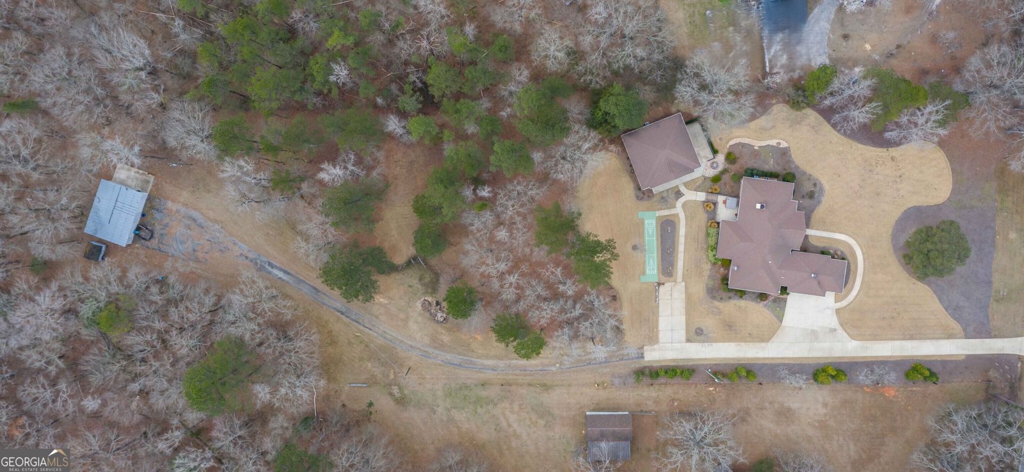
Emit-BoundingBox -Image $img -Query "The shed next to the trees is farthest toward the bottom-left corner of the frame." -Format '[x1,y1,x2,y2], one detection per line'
[84,242,108,261]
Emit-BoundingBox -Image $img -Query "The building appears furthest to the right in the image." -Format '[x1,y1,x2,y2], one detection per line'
[715,177,848,297]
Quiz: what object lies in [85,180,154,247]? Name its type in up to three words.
shed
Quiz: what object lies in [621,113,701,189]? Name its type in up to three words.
house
